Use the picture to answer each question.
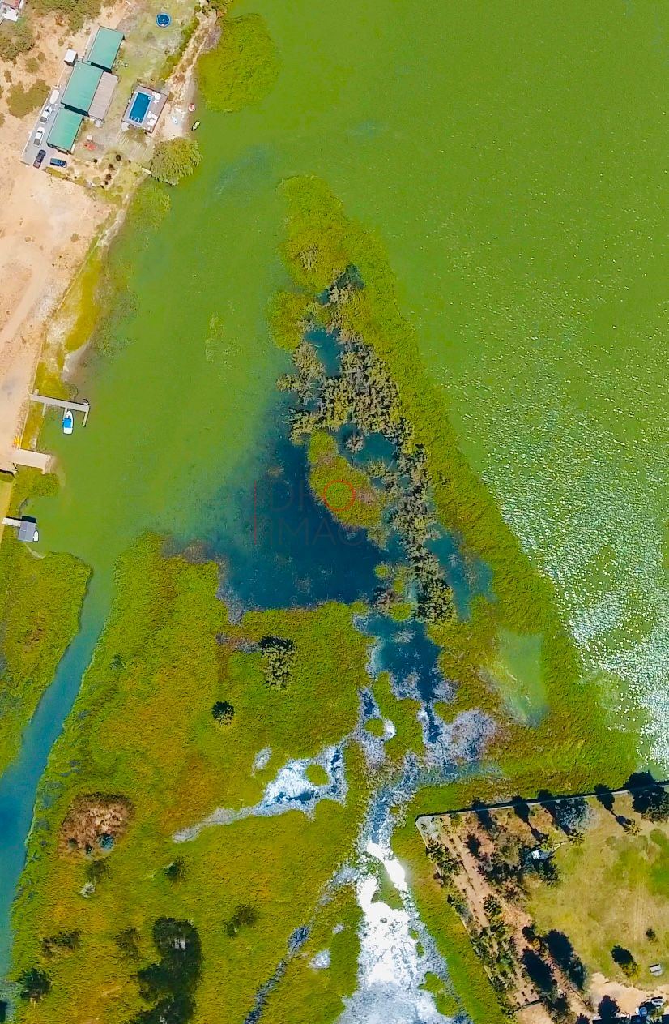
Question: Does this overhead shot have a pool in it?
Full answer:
Yes, a pool is visible in the scene.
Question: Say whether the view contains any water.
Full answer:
Yes, there's water in this view.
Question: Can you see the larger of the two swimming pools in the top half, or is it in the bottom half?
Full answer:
The larger of the two swimming pools sits in the top half of the picture.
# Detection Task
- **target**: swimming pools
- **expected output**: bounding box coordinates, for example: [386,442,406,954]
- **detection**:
[121,86,169,134]
[156,12,171,28]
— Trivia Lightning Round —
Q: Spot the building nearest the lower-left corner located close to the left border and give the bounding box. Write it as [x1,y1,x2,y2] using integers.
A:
[19,521,38,542]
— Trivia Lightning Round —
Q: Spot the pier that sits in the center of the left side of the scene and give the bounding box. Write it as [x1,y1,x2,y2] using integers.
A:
[29,391,90,427]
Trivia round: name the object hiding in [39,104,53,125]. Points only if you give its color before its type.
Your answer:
white vehicle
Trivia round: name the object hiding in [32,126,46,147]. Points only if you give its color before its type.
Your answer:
white vehicle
